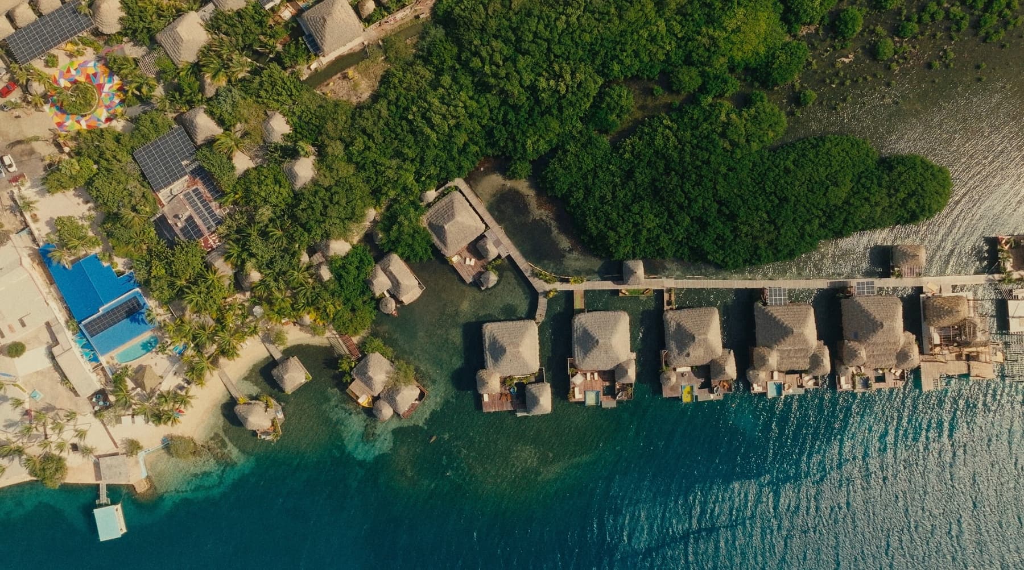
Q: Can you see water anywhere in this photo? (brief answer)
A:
Yes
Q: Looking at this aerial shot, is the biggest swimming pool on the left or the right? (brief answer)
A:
left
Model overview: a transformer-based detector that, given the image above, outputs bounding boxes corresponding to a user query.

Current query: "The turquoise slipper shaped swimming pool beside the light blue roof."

[113,332,160,365]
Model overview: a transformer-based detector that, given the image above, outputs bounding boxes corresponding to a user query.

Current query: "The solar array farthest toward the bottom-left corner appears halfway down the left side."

[83,296,143,339]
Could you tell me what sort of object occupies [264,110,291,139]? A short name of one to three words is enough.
house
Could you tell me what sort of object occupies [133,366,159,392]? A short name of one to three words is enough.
house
